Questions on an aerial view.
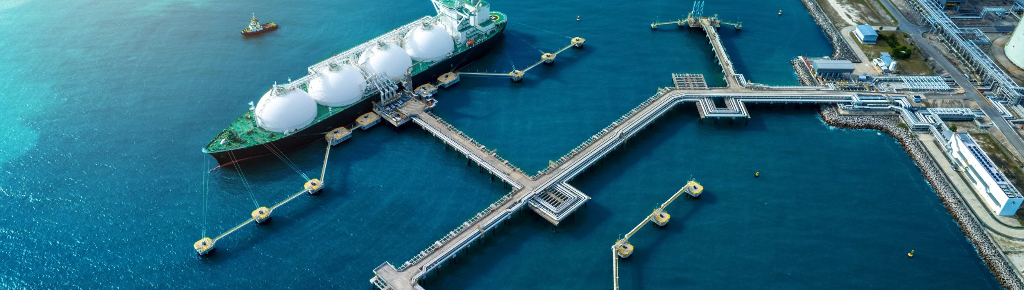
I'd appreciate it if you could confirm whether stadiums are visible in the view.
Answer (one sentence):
No, the picture doesn't show any stadium.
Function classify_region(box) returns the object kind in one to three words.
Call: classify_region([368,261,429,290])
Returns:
pier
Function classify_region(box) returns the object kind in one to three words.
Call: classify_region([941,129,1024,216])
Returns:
building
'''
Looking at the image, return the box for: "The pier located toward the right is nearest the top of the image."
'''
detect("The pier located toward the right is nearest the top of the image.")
[687,7,721,36]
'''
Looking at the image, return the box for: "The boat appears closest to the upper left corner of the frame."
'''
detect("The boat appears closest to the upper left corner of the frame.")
[241,17,277,37]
